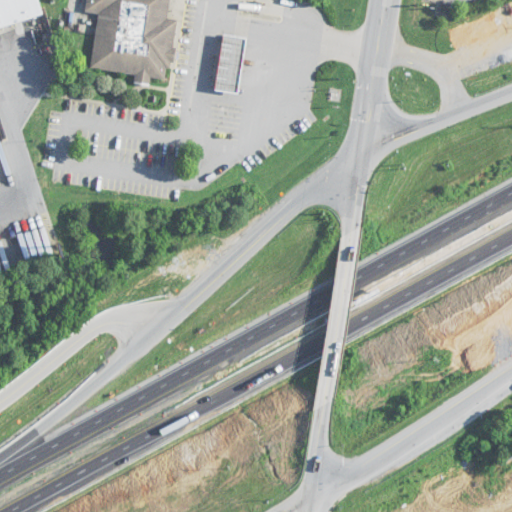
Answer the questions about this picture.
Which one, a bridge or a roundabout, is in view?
bridge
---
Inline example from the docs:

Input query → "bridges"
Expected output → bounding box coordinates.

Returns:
[314,230,361,409]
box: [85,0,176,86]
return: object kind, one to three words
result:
building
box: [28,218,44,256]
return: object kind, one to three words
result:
vehicle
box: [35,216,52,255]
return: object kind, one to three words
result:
vehicle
